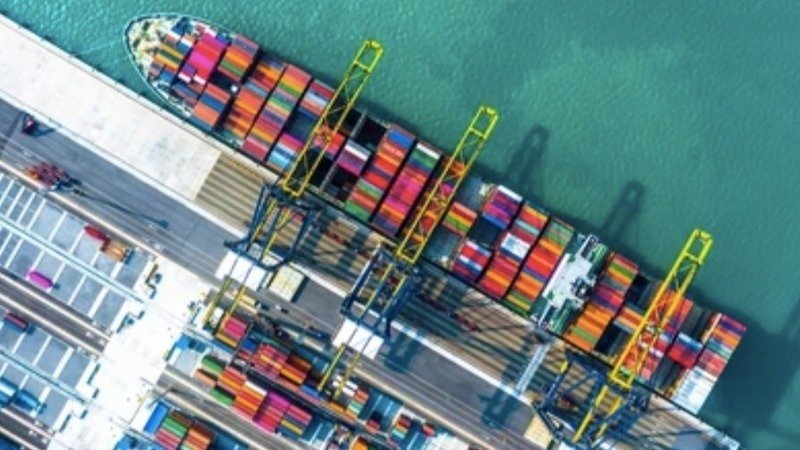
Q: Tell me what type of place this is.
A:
port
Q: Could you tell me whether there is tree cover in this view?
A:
No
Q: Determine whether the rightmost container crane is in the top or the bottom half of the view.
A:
bottom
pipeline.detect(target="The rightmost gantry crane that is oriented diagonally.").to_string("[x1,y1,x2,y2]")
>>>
[533,231,716,450]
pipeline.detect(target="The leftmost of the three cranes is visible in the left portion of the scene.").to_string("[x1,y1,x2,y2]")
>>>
[202,38,383,330]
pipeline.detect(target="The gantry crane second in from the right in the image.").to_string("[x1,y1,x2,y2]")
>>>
[319,106,499,397]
